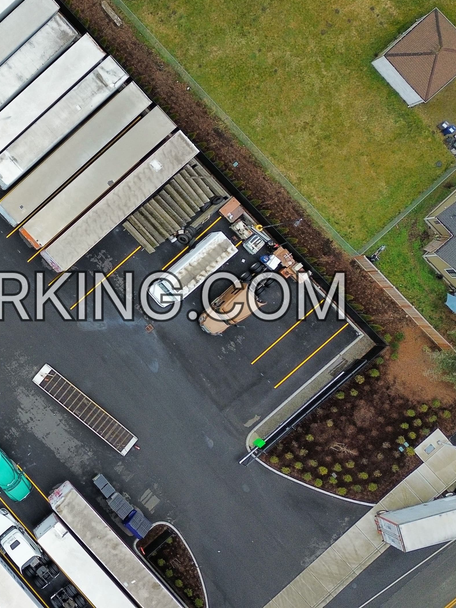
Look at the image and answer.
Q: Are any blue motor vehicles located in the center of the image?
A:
No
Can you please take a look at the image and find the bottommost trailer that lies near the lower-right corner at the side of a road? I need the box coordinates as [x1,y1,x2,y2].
[372,494,456,553]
